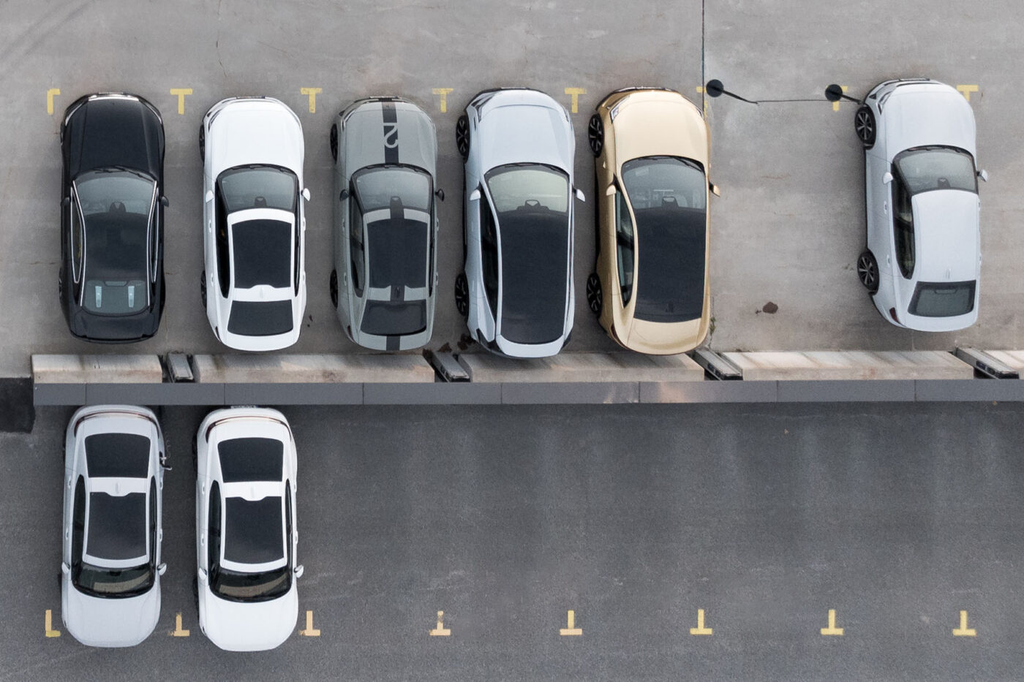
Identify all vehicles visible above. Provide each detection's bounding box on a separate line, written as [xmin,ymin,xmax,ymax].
[198,95,313,351]
[587,86,720,354]
[59,92,170,344]
[854,78,990,334]
[59,403,171,648]
[191,404,305,652]
[456,87,584,356]
[330,95,448,351]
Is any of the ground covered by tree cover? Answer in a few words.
No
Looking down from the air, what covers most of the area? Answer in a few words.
paved ground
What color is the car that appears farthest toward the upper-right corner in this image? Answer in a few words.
white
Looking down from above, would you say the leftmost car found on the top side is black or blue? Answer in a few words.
black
